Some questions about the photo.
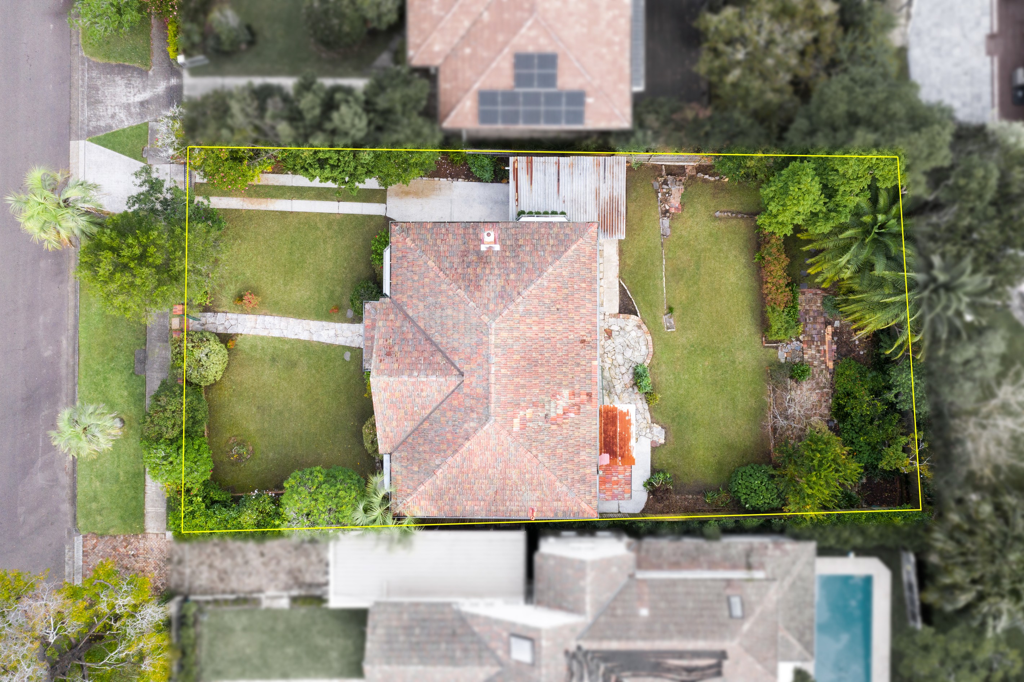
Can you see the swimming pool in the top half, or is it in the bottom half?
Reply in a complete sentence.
The swimming pool sits in the bottom half of the picture.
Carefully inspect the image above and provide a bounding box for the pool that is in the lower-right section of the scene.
[818,576,872,682]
